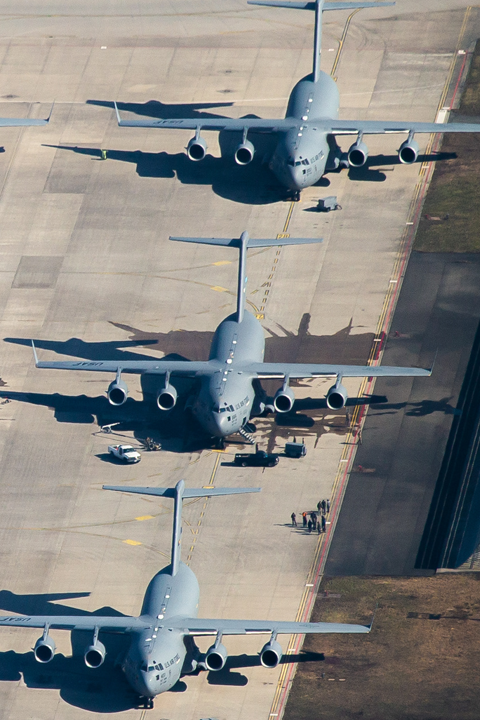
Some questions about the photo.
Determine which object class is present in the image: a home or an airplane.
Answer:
airplane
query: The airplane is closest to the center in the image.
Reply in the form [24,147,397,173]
[31,228,438,449]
